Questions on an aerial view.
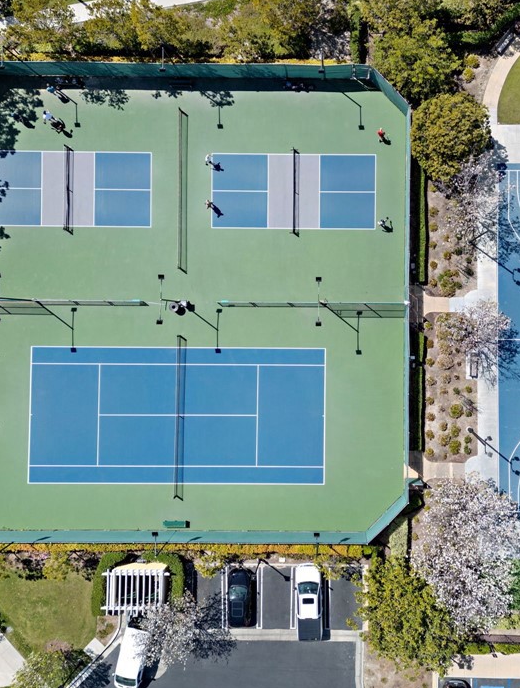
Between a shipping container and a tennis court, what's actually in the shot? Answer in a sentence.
The image shows a tennis court.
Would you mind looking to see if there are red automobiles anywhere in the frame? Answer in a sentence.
No, the photo shows no red automobile.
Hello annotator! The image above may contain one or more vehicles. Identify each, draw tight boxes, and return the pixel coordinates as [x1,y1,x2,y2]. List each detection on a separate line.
[443,674,467,688]
[111,624,149,688]
[225,562,254,624]
[294,560,324,640]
